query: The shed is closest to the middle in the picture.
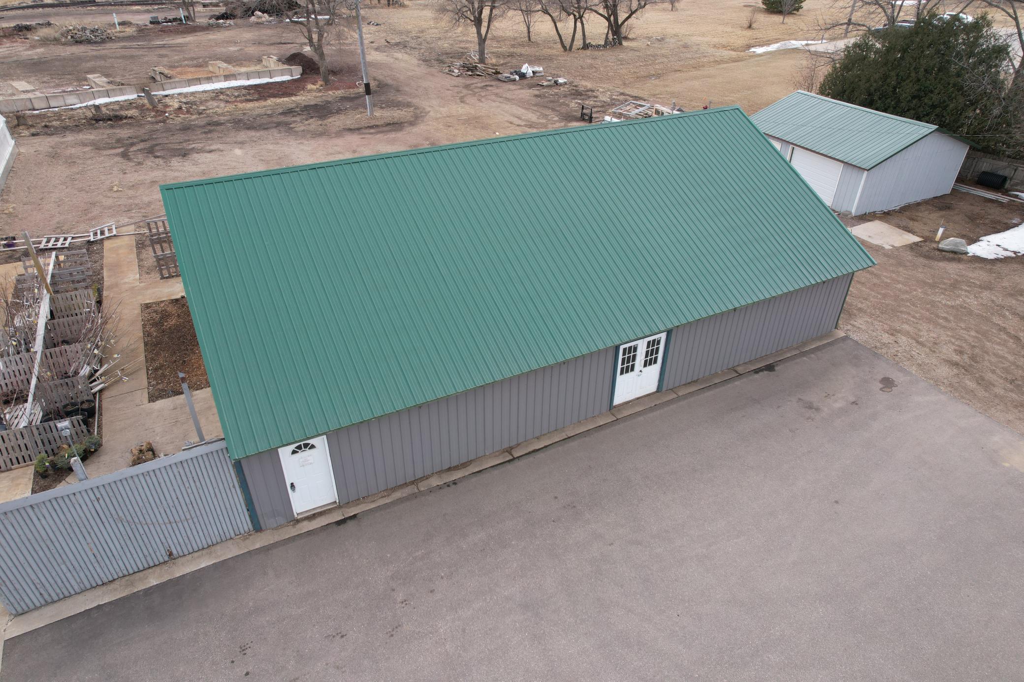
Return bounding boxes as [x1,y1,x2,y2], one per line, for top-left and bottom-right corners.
[158,103,878,532]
